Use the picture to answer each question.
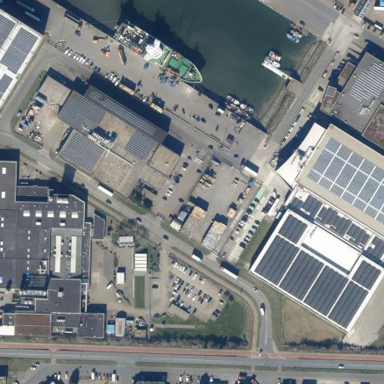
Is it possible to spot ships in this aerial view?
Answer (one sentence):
Yes, there is a ship in the image.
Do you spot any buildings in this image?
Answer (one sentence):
Yes, a building is visible in the scene.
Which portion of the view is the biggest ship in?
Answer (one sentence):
The biggest ship is in the top part of the image.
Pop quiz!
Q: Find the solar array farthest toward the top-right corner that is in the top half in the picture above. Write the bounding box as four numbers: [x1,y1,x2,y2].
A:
[350,63,384,101]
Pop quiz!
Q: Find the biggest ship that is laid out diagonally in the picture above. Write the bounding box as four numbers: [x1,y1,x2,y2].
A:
[115,20,203,80]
